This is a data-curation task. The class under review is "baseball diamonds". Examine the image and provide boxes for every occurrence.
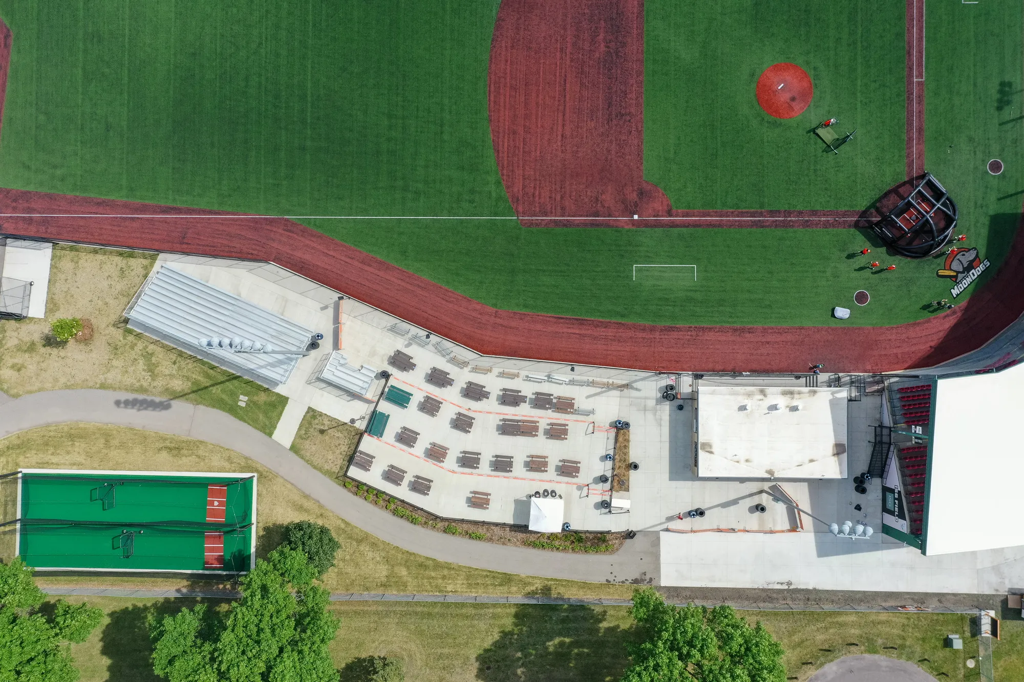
[0,0,1024,374]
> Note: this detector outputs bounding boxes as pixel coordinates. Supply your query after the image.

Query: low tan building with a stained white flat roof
[692,386,848,481]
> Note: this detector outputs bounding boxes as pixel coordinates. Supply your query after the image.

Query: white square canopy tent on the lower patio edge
[528,493,564,532]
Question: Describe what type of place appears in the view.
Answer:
sports ground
